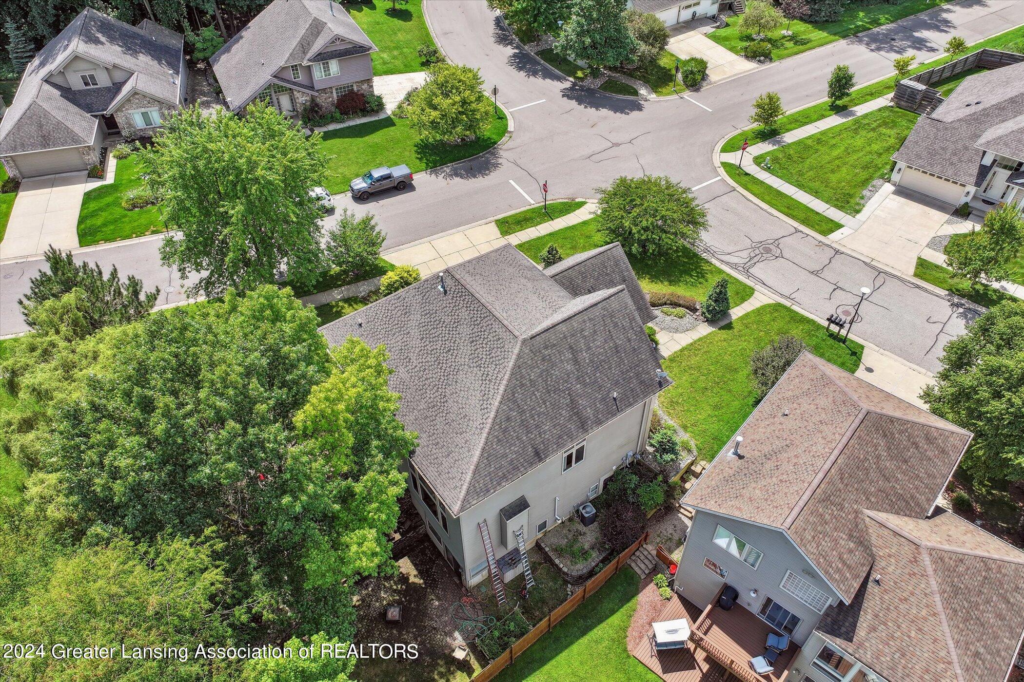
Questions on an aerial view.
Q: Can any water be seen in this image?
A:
No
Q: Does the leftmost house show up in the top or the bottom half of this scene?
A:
top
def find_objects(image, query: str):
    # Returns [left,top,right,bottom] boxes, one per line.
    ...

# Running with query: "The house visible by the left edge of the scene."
[0,7,193,180]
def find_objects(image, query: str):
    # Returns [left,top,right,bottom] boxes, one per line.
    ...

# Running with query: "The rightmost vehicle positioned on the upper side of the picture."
[345,166,414,201]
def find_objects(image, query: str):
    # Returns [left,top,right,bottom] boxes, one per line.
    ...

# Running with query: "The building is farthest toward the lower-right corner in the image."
[671,350,1024,682]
